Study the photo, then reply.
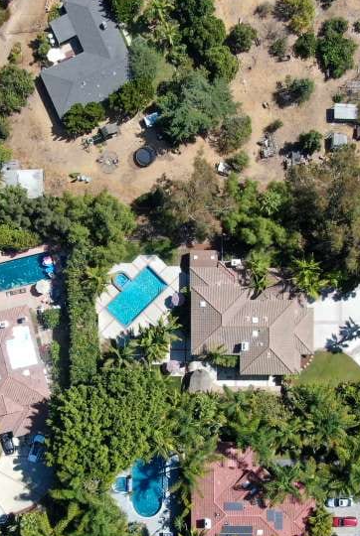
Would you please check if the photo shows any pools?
Yes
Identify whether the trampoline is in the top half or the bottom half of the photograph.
top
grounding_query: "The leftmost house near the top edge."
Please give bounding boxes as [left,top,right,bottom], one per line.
[40,0,130,119]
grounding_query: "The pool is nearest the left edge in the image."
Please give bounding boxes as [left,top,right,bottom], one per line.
[0,249,57,292]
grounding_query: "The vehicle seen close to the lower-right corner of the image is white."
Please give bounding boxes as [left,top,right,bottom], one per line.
[327,497,354,510]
